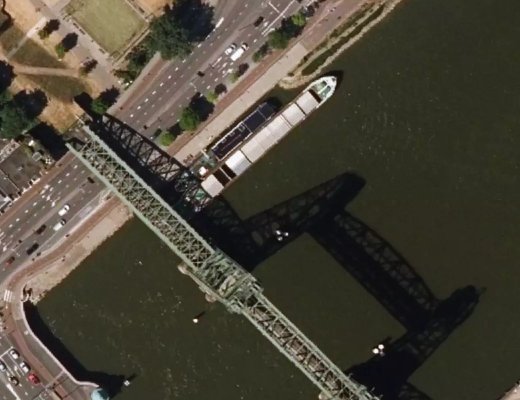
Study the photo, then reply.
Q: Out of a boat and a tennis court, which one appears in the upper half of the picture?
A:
boat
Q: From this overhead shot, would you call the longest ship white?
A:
Yes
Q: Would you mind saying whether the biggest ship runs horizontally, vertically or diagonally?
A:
diagonally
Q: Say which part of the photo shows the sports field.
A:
top left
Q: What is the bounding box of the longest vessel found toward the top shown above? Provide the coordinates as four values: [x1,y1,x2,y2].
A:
[183,76,338,211]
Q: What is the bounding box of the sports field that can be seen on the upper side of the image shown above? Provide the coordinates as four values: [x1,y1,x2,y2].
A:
[67,0,150,58]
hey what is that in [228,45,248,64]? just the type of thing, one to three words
vehicle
